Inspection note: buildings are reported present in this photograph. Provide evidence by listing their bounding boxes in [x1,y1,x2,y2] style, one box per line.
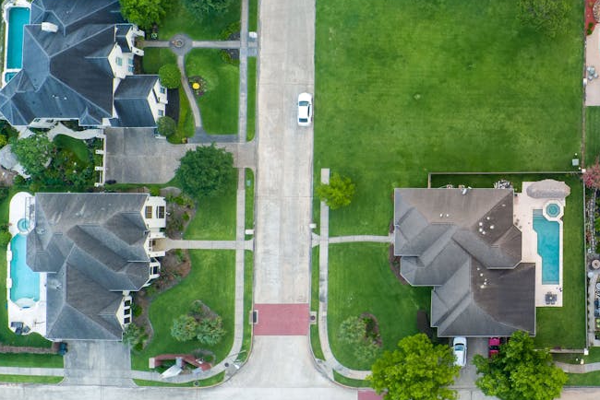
[0,0,171,130]
[393,188,537,338]
[27,193,174,341]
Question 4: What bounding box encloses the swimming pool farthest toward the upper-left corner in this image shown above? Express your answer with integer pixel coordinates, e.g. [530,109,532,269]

[5,7,32,69]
